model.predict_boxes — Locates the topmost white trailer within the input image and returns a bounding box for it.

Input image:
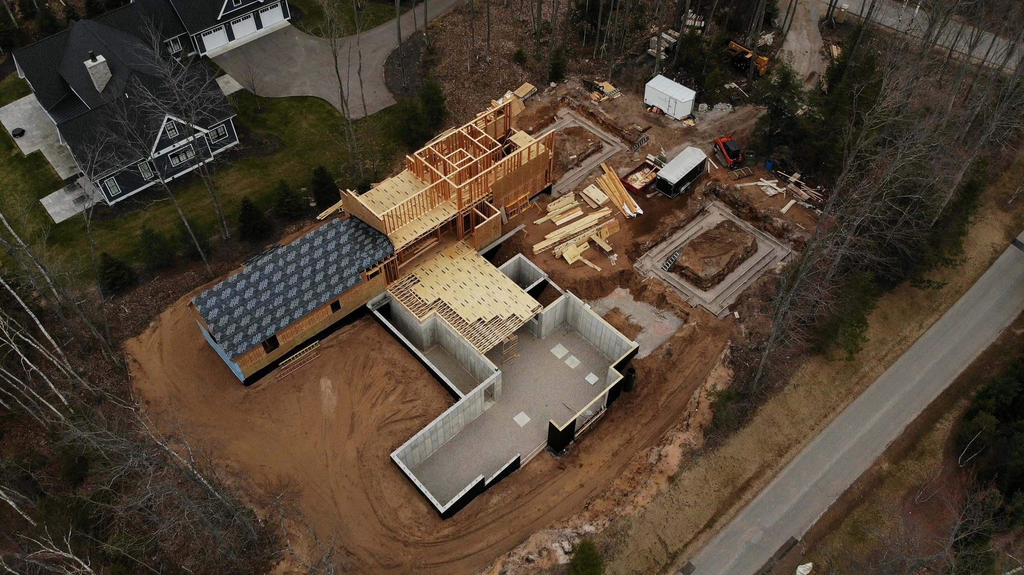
[643,75,702,124]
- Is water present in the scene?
No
